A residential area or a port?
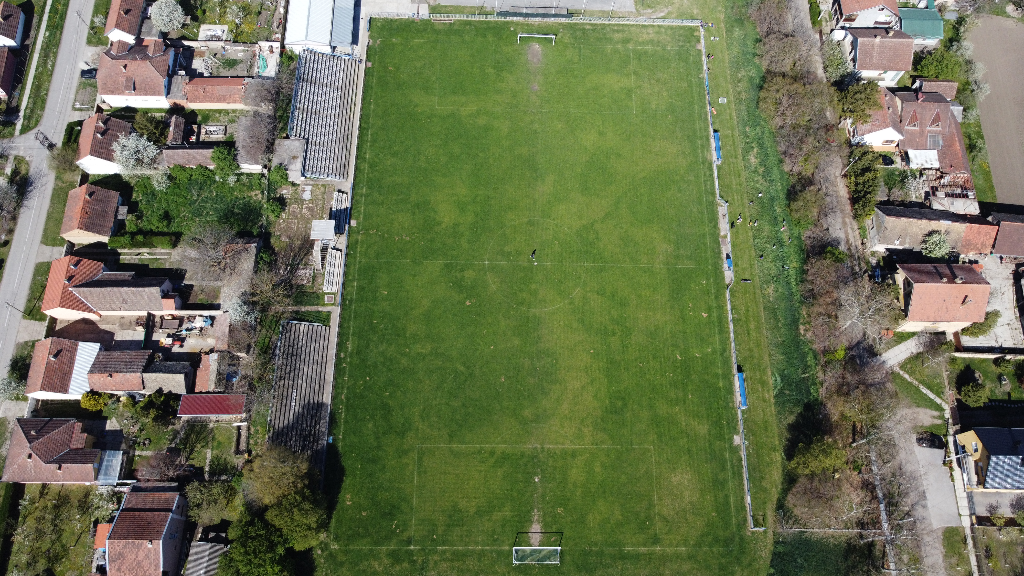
residential area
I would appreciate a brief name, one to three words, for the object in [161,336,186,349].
vehicle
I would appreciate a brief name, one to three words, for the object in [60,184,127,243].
house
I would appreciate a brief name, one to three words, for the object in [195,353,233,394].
barn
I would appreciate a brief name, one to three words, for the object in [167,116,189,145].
shed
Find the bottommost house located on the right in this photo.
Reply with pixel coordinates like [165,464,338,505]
[948,427,1024,491]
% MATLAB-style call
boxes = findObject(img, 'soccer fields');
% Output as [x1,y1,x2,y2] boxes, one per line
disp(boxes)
[315,18,761,576]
